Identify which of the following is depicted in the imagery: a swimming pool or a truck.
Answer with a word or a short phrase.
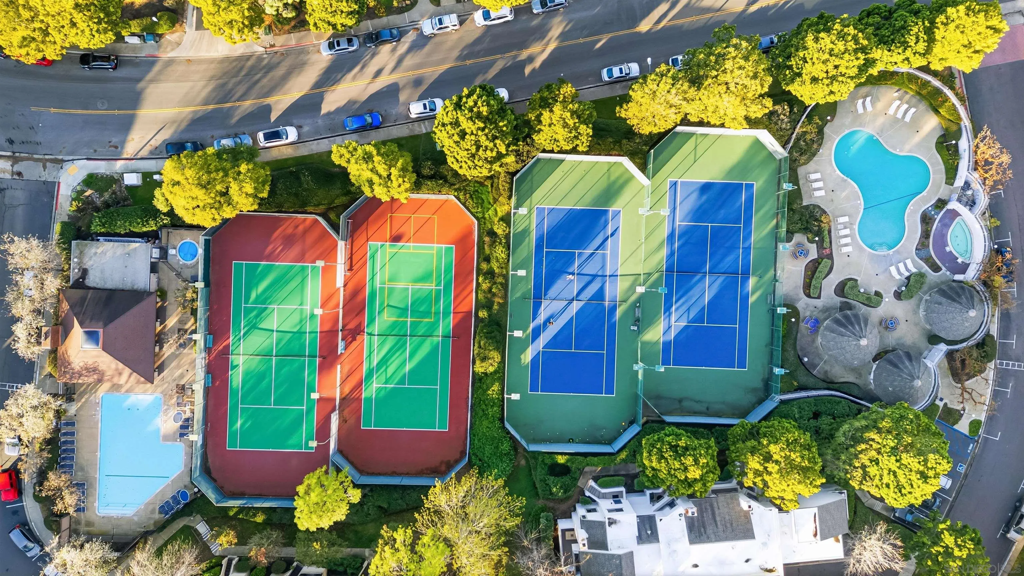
swimming pool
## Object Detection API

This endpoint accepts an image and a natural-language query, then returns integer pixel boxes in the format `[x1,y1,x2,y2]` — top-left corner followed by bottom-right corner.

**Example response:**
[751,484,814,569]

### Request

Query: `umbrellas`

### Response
[872,345,937,404]
[920,283,985,346]
[817,309,879,369]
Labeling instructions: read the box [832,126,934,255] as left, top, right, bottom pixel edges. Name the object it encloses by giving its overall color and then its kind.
blue swimming pool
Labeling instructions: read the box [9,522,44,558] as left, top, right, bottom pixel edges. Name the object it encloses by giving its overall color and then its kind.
blue car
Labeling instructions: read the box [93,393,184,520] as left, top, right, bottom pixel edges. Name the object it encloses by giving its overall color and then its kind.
blue swimming pool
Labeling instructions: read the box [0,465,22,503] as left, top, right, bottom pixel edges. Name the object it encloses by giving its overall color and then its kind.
red car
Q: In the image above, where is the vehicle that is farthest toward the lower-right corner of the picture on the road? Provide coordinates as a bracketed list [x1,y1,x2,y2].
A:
[998,497,1024,537]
